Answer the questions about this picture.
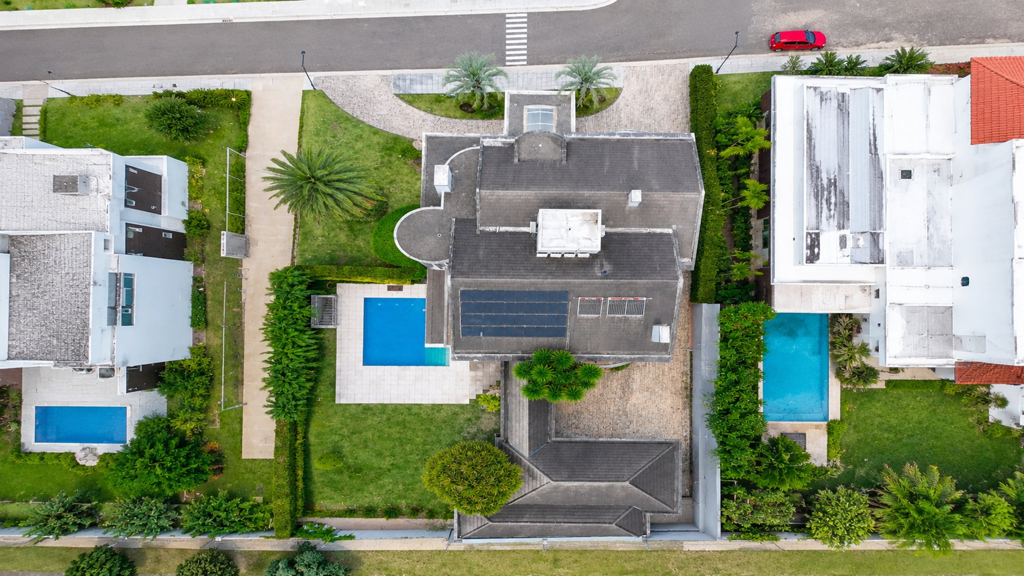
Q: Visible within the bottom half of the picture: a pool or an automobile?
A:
pool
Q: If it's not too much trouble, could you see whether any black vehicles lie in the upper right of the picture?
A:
No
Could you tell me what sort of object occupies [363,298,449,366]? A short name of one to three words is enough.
swimming pool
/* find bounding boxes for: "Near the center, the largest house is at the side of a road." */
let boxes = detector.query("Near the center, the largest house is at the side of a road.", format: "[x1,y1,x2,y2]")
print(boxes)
[394,91,707,368]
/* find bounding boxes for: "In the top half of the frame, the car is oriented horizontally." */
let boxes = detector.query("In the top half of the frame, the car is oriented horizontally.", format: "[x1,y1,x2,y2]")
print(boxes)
[772,25,830,54]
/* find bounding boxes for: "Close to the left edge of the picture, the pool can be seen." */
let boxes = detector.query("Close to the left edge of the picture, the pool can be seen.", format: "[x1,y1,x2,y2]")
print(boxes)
[31,404,129,447]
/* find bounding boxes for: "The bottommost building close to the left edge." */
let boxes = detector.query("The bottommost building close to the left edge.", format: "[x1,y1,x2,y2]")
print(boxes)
[0,136,193,394]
